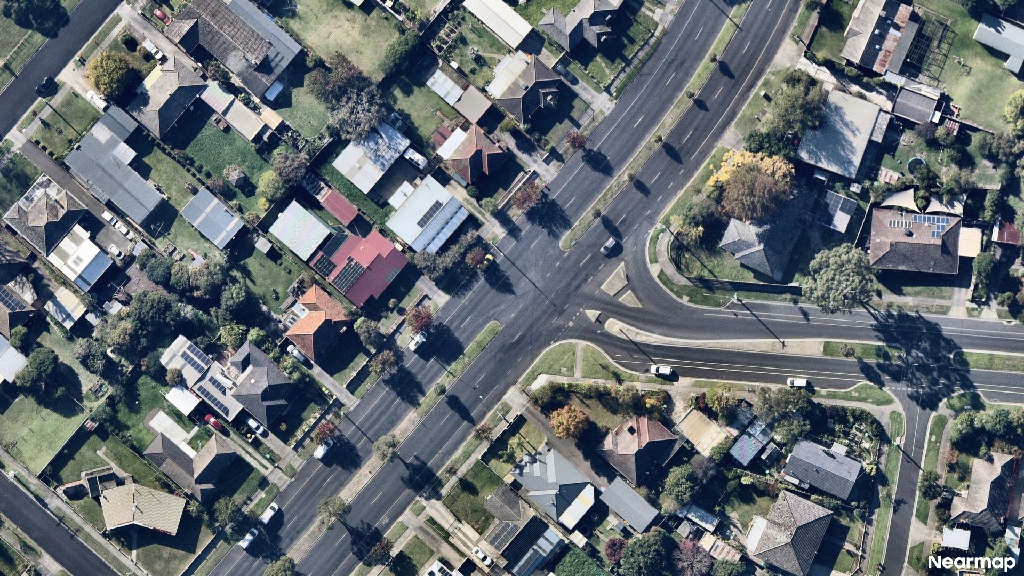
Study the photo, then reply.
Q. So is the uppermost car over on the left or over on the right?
left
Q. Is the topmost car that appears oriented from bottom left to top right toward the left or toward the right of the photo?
left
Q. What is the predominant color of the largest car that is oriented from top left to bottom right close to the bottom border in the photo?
white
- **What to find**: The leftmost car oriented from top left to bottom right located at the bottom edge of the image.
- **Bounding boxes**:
[471,546,491,566]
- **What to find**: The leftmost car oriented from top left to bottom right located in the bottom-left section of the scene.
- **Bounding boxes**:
[203,412,224,431]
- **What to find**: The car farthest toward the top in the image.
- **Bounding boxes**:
[152,7,173,27]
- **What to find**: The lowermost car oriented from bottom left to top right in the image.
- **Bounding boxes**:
[238,527,258,550]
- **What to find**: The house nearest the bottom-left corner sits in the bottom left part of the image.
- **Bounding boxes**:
[100,484,186,535]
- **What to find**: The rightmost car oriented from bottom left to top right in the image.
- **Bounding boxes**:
[599,235,618,258]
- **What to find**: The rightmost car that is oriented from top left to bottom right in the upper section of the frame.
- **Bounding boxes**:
[557,64,578,85]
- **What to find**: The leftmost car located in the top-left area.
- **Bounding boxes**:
[36,75,56,98]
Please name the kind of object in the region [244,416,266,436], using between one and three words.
car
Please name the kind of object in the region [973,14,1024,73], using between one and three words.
shed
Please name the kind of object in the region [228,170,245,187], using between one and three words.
gazebo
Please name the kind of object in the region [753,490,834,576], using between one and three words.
house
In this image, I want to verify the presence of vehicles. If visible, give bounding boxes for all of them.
[259,502,278,525]
[471,546,491,566]
[86,90,108,111]
[112,219,127,239]
[152,7,173,27]
[408,331,427,353]
[557,64,578,85]
[106,241,126,262]
[238,527,258,550]
[650,364,673,375]
[97,208,117,229]
[36,75,56,98]
[786,377,809,387]
[285,343,307,363]
[314,439,333,460]
[141,37,163,59]
[203,412,224,431]
[244,416,266,436]
[599,235,618,258]
[64,486,87,497]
